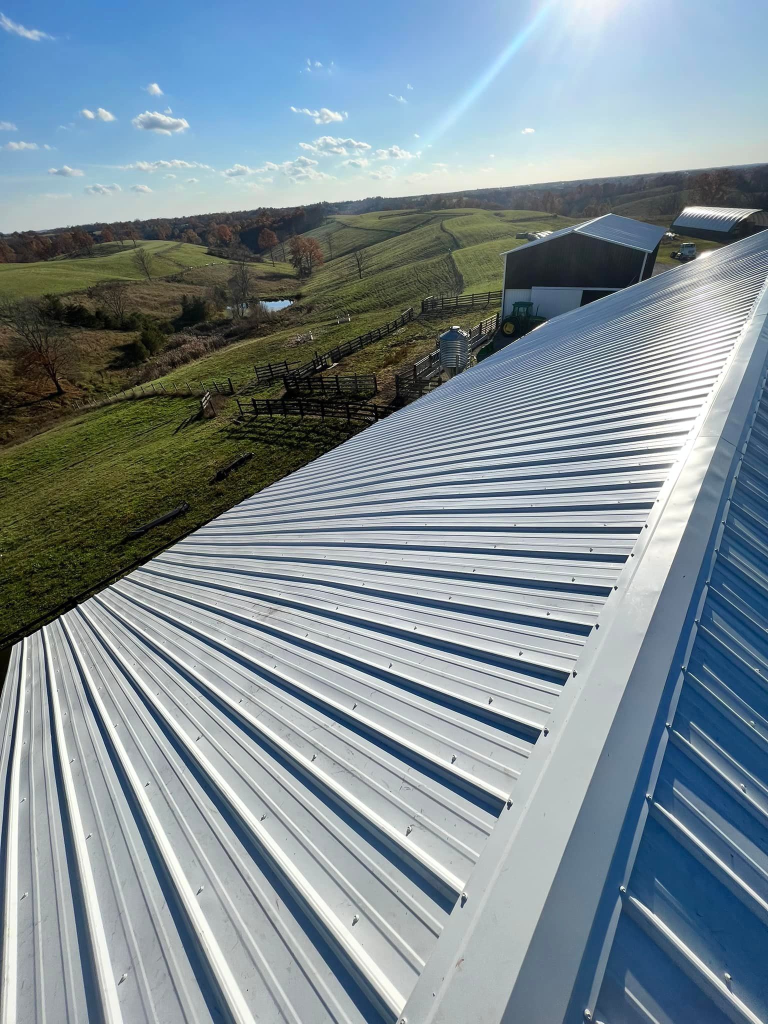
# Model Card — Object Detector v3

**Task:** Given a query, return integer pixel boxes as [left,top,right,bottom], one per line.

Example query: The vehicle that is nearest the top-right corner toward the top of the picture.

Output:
[673,240,705,260]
